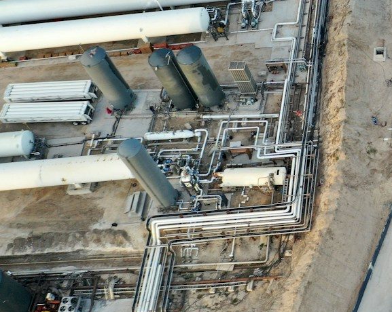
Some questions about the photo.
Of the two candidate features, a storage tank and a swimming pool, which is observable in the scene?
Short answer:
storage tank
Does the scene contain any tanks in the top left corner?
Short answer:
Yes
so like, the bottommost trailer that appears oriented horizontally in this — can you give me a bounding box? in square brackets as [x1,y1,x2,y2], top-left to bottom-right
[0,94,96,123]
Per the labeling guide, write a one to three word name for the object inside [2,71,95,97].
trailer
